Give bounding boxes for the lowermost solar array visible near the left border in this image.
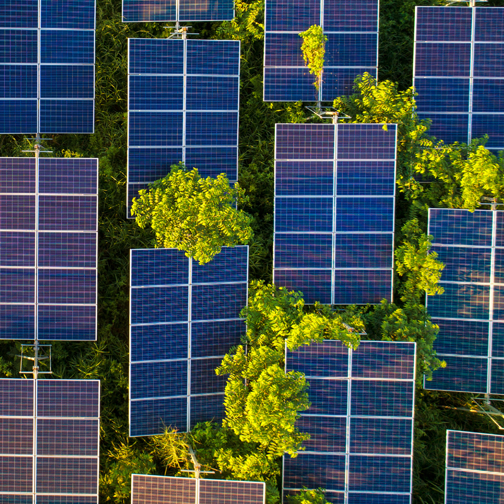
[0,368,100,504]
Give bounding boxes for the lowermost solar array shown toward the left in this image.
[132,467,264,504]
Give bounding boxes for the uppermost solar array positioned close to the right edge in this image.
[412,0,504,190]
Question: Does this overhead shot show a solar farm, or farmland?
solar farm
